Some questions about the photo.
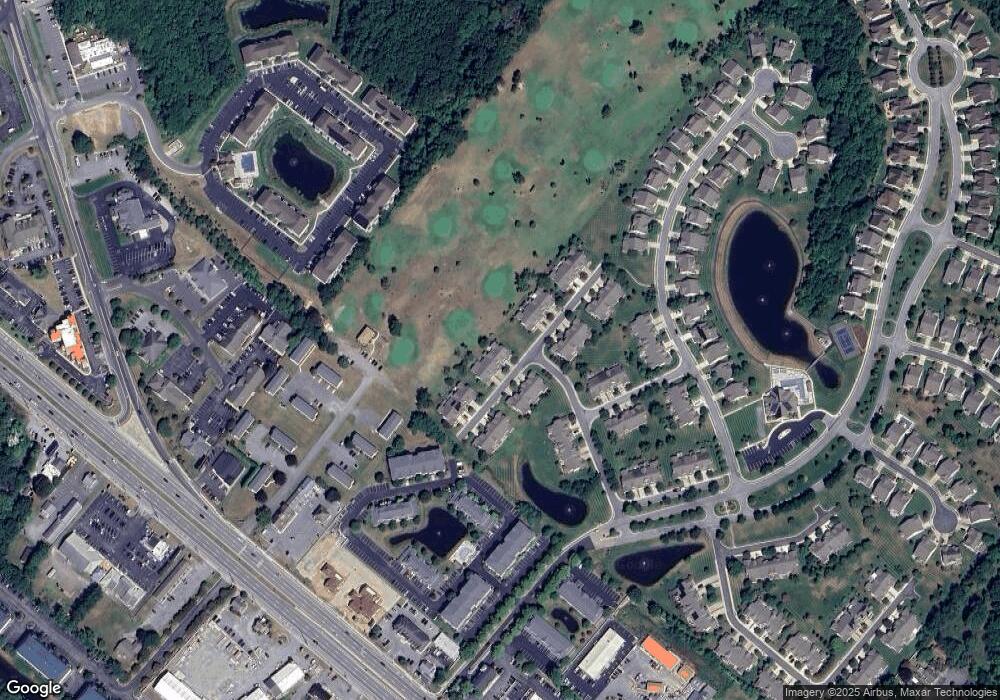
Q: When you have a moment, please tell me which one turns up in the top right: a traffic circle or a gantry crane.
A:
traffic circle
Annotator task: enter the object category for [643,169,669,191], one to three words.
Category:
house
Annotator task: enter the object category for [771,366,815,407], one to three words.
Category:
swimming pool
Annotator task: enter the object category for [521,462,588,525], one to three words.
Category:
pond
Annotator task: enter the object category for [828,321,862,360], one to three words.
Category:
sports court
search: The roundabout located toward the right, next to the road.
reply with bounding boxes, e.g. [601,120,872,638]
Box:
[908,39,967,97]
